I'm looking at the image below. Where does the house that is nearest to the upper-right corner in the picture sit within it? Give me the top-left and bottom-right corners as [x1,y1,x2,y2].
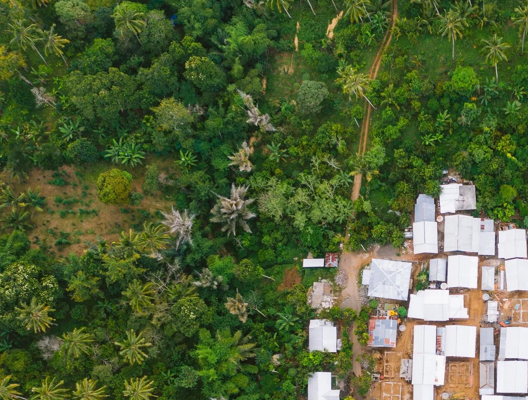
[440,184,476,215]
